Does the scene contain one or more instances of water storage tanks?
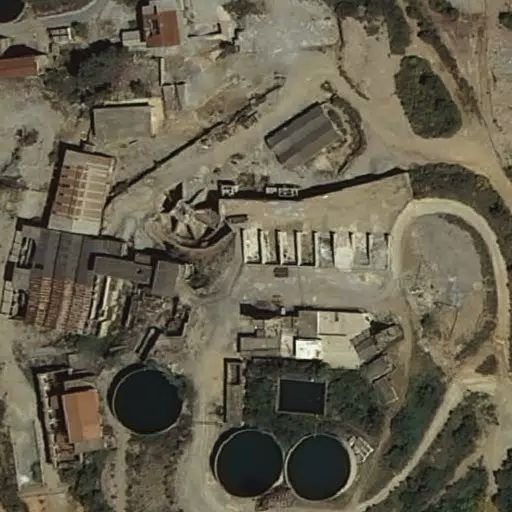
Yes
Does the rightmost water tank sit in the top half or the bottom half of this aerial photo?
bottom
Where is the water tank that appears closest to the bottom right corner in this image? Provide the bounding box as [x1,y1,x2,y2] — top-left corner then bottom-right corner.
[284,433,357,502]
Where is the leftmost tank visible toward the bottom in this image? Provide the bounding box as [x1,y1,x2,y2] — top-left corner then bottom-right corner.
[113,366,183,436]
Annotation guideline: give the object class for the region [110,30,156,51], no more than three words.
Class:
shed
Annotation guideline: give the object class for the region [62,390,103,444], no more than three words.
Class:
building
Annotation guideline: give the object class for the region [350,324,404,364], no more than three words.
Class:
shed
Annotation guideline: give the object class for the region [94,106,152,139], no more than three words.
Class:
building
